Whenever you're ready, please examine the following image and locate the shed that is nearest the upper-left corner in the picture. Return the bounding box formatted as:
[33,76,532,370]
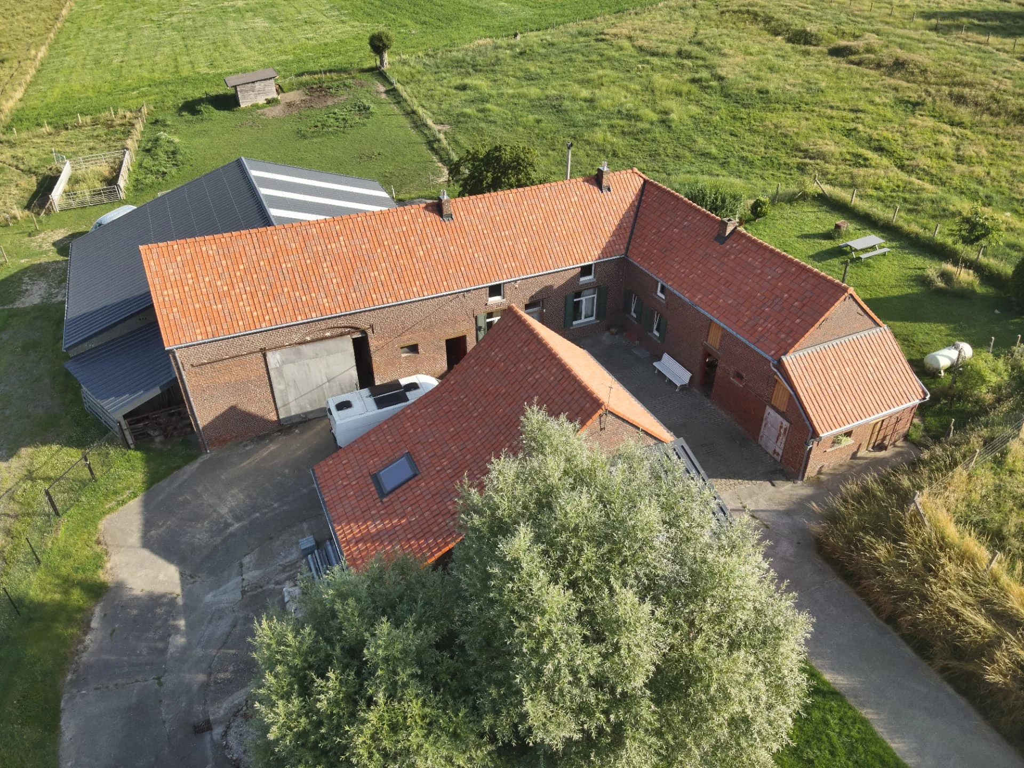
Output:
[215,69,282,105]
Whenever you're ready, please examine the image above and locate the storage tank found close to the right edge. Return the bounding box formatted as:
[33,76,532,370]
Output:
[920,337,974,379]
